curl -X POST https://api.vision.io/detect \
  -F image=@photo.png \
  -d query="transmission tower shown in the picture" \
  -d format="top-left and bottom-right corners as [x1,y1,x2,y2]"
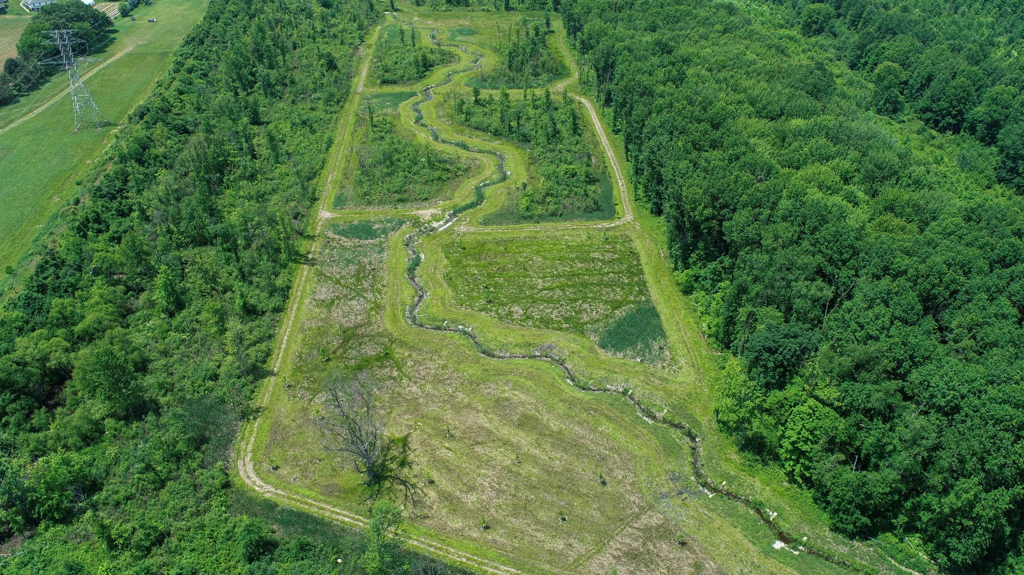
[40,27,107,131]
